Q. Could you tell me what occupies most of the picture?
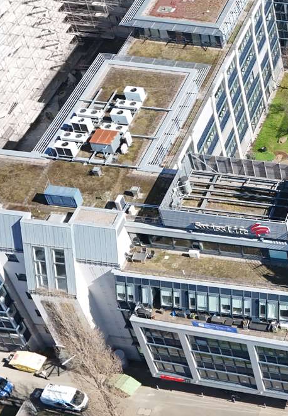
buildings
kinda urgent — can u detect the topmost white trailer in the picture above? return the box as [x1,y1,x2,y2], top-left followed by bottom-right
[4,354,54,378]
